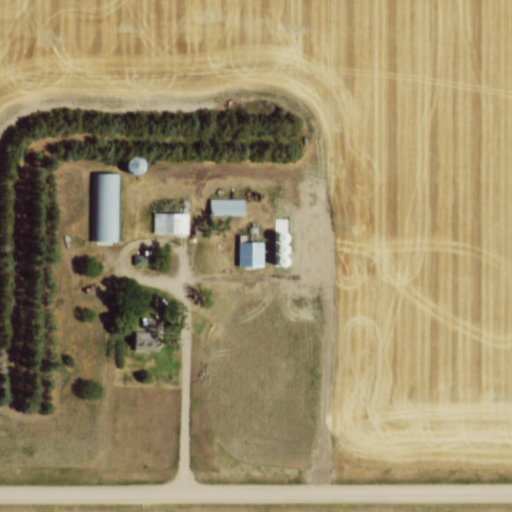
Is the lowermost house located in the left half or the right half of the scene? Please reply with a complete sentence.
The lowermost house sits on the left side.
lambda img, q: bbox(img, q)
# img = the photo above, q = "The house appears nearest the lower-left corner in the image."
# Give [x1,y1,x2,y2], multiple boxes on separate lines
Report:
[136,330,162,354]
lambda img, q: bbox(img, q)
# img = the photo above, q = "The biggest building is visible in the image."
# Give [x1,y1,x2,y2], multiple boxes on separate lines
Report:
[94,174,120,244]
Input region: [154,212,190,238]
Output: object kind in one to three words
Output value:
shed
